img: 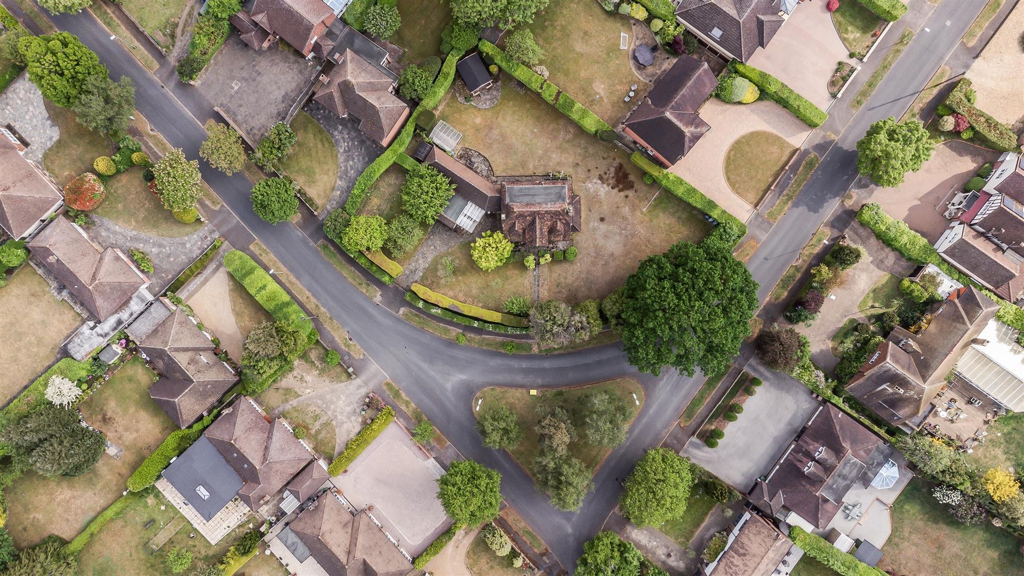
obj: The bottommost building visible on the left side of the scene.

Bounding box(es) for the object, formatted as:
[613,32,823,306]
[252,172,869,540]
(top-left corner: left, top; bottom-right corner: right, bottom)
[277,488,414,576]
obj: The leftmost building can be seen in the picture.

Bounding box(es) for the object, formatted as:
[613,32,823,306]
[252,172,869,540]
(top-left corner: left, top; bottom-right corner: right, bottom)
[0,123,75,241]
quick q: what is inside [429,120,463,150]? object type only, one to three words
greenhouse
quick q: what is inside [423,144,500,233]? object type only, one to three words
shed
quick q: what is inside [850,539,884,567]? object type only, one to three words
shed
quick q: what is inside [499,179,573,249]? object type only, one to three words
house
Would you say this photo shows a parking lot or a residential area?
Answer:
residential area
